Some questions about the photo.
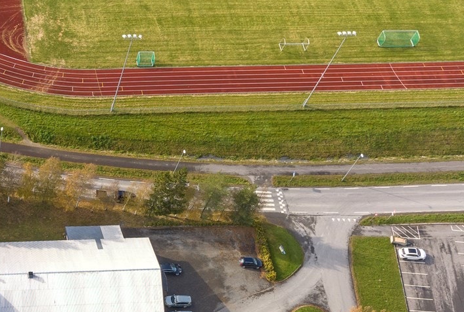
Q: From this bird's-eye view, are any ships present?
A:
No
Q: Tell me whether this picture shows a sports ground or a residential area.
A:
sports ground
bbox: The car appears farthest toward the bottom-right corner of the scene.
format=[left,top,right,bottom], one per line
[396,247,426,262]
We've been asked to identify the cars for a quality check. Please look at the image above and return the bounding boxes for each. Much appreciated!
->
[396,247,426,262]
[113,190,139,204]
[163,296,193,309]
[237,258,263,270]
[160,264,185,278]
